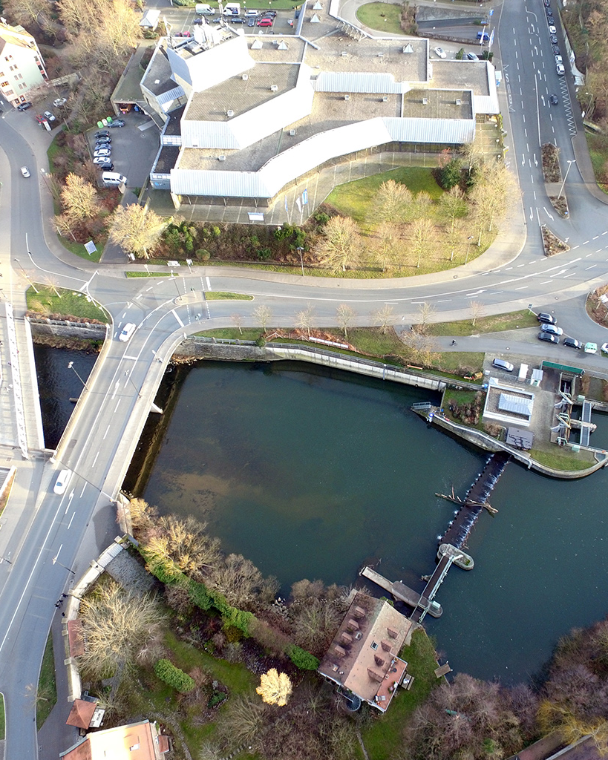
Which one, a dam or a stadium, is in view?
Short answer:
dam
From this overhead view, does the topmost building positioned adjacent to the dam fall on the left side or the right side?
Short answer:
right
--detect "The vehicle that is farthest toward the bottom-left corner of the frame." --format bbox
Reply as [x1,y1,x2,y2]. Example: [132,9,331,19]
[55,470,72,493]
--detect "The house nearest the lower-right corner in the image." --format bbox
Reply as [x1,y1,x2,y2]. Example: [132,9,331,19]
[317,590,414,714]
